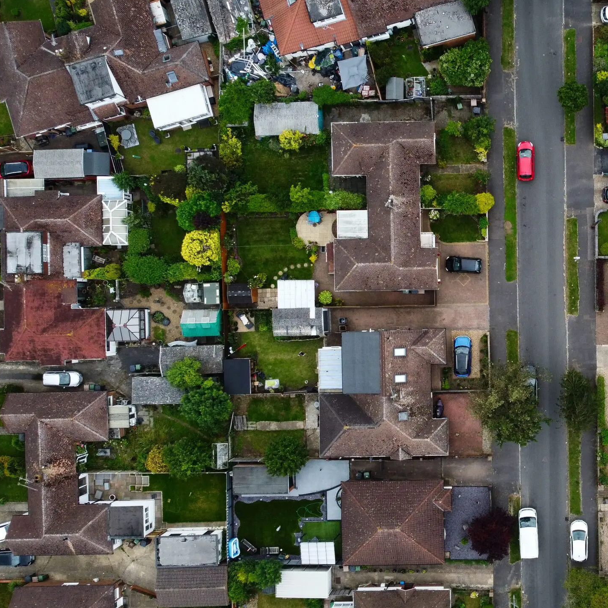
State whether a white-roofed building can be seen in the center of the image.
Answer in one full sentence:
Yes, you'll find a white-roofed building in the center of the image.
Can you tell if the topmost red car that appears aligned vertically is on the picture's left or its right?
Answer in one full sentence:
You can find the topmost red car that appears aligned vertically on the right side of the picture.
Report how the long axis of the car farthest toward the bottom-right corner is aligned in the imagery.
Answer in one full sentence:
The car farthest toward the bottom-right corner has been laid out vertically relative to the frame.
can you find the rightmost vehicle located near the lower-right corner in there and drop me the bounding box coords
[569,519,590,561]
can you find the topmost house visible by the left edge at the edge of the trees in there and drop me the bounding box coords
[0,0,221,139]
